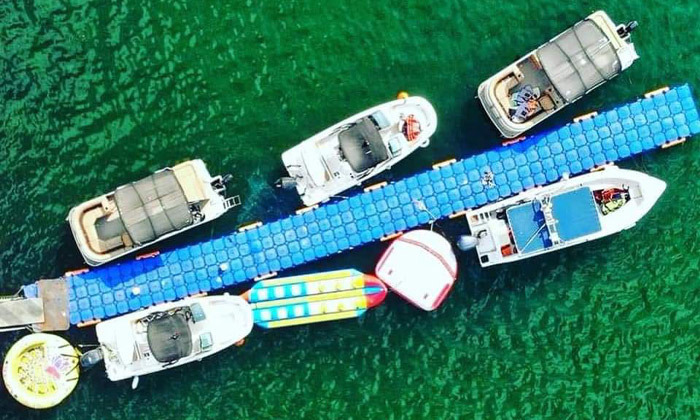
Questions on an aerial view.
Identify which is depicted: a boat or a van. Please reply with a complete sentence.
I can see a boat in this picture.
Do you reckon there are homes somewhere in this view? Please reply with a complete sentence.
No, no home can be seen from above.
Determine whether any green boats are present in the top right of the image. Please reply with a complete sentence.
No, no green boat can be made out in the top right of the image.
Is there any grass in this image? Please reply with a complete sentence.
No, the scene doesn't show any grass.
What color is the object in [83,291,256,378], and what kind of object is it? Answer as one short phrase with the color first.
white boat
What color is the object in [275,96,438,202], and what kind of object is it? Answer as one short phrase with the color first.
white boat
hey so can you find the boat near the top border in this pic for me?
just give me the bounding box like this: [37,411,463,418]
[479,17,641,135]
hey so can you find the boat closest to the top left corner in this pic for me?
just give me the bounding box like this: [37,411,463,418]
[71,157,239,262]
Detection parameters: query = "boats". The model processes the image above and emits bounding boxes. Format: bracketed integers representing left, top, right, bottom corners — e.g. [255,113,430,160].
[454,166,667,267]
[83,291,256,378]
[479,17,641,135]
[71,157,239,262]
[275,96,438,202]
